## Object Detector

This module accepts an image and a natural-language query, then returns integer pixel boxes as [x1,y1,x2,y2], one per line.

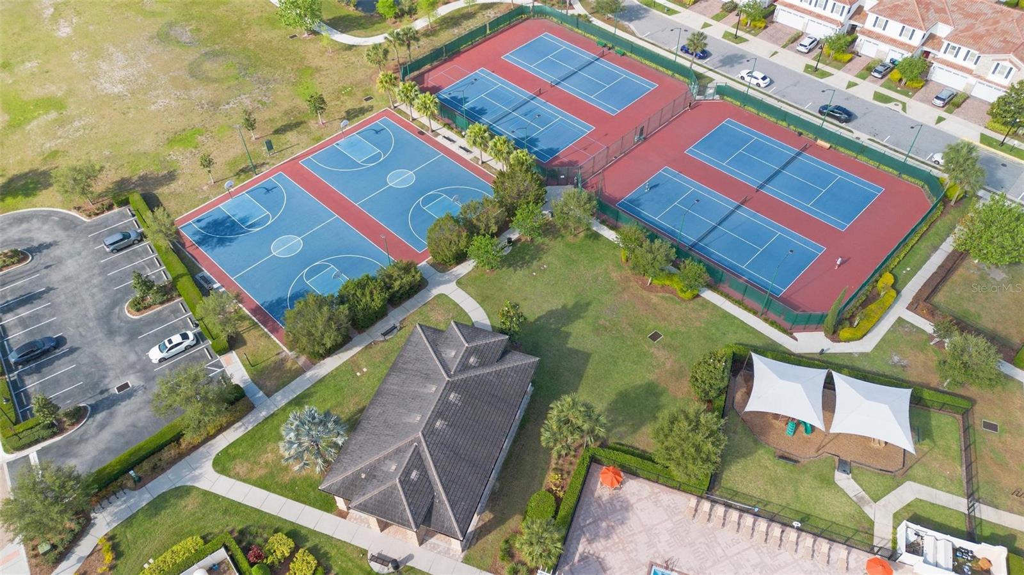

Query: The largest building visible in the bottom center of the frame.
[317,322,538,567]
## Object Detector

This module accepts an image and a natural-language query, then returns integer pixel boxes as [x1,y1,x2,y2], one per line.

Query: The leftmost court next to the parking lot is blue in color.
[179,172,399,327]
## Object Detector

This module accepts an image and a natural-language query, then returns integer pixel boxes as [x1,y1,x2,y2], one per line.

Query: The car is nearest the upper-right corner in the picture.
[934,89,954,109]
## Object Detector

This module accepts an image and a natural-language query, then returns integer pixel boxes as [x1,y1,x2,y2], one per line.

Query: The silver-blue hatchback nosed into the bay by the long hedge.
[100,226,142,251]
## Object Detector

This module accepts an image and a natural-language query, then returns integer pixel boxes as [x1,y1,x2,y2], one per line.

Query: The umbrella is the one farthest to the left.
[599,470,625,495]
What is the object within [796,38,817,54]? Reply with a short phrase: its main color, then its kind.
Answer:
white car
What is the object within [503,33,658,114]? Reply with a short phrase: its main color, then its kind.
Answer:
blue tennis court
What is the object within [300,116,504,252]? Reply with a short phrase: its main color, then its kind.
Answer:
blue basketball court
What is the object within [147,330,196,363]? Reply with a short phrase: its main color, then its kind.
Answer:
white car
